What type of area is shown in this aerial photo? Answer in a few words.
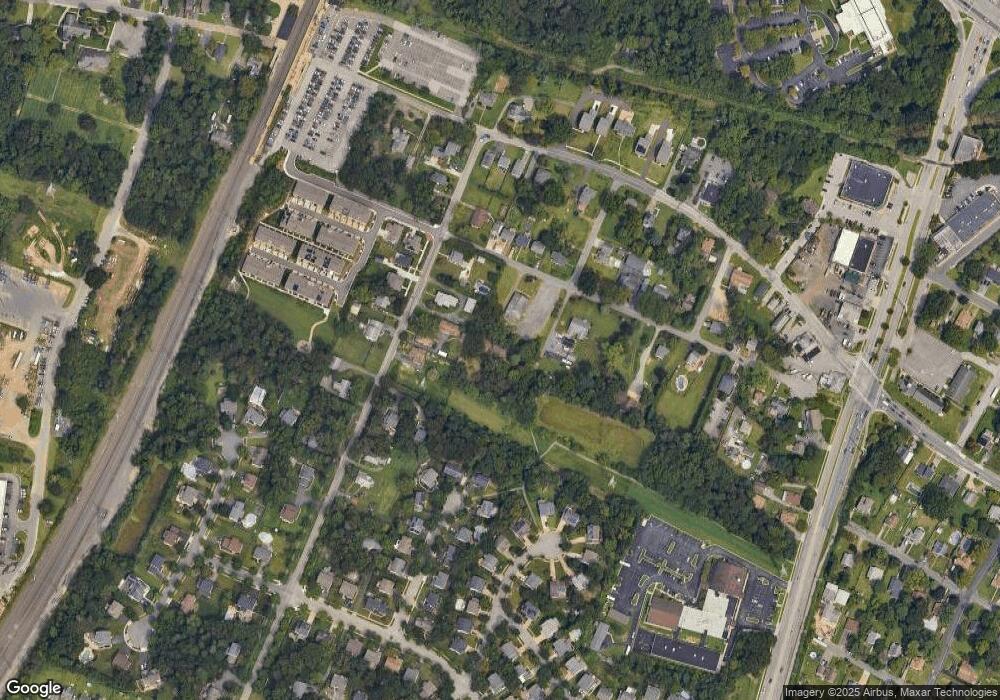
residential area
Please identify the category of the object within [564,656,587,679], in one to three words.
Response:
house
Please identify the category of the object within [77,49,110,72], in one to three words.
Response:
barn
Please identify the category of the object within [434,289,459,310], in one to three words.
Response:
house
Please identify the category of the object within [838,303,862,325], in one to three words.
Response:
building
